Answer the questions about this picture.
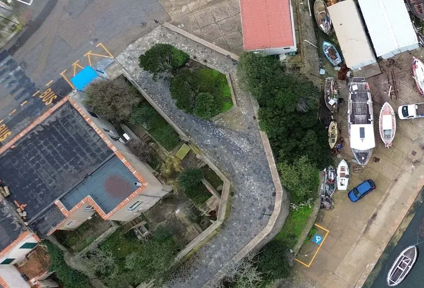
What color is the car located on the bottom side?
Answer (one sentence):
In this view, the car located on the bottom side is blue.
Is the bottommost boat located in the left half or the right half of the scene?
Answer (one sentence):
The bottommost boat sits on the right side.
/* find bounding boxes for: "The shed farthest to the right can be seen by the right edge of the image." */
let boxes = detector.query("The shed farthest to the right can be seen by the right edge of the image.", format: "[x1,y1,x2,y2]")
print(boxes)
[359,0,423,61]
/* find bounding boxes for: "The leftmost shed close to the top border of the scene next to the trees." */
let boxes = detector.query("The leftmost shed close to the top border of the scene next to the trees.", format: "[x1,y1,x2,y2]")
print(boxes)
[240,0,301,54]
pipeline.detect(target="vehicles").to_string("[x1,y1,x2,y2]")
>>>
[398,102,424,122]
[347,178,378,204]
